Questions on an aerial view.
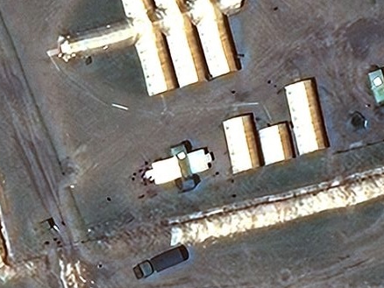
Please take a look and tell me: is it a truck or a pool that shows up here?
truck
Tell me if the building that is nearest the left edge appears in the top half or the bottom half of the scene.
top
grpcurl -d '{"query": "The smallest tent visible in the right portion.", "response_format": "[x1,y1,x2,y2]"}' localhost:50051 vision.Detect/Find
[258,126,291,166]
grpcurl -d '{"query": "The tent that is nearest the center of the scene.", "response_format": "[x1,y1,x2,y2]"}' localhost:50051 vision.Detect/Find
[223,118,262,174]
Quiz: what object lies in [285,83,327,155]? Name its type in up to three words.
tent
